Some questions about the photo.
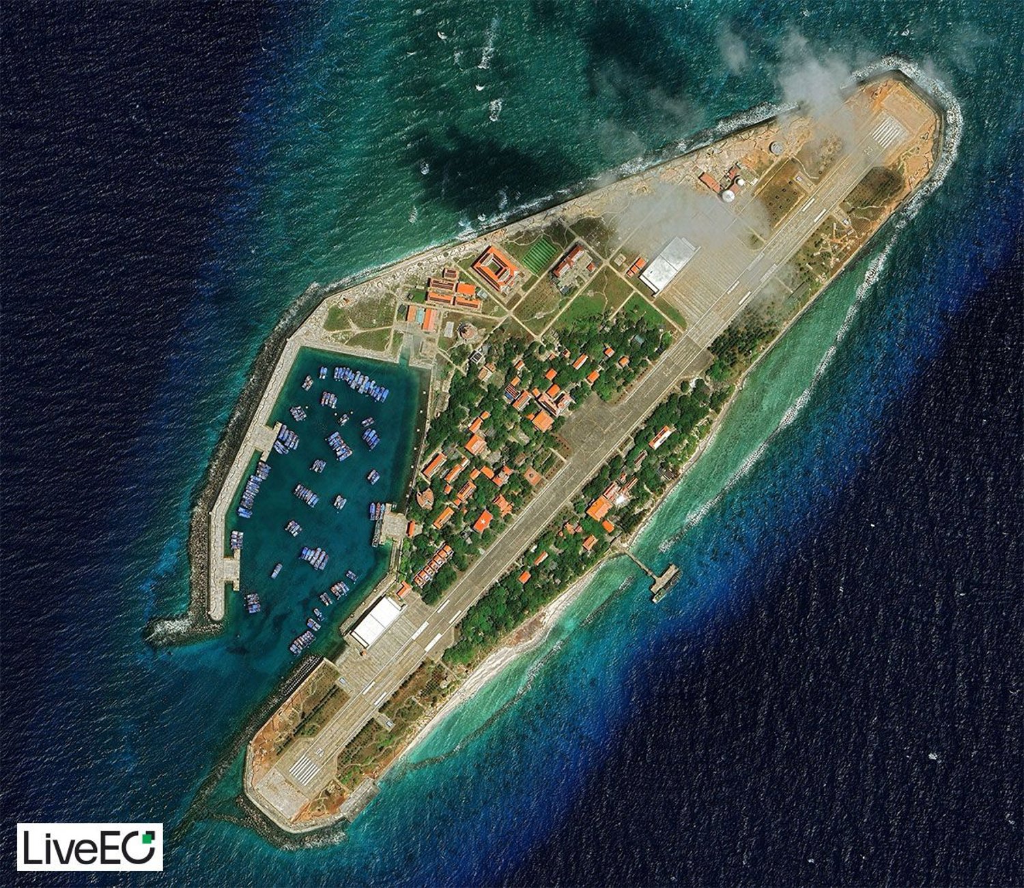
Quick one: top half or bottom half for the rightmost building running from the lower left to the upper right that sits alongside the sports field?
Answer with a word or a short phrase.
top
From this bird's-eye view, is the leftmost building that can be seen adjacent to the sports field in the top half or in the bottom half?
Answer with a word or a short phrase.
top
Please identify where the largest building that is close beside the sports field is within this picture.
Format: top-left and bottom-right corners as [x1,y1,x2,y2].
[472,245,524,296]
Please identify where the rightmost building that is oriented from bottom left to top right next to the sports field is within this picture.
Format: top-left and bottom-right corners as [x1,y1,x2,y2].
[553,244,586,278]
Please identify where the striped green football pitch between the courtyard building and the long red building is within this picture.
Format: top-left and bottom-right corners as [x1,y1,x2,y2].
[521,236,558,275]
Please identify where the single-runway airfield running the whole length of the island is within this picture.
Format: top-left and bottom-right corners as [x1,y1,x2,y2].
[256,83,936,819]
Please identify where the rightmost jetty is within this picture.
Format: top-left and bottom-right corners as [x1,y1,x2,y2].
[621,544,679,594]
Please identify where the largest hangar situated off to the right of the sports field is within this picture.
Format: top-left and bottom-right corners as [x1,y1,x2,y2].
[640,236,701,297]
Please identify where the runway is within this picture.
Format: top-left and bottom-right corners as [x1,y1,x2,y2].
[283,116,900,793]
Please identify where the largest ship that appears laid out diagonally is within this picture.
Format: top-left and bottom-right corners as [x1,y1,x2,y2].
[652,571,683,605]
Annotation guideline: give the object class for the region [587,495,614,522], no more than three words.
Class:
building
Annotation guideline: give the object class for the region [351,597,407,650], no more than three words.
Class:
hangar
